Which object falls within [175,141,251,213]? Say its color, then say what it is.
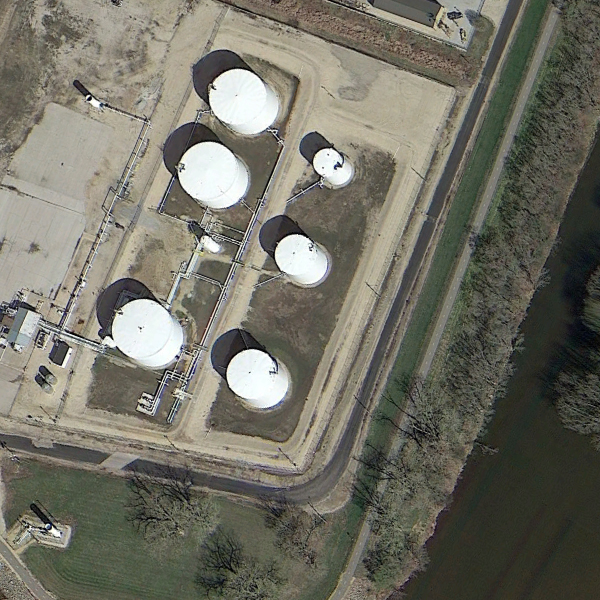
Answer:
white storage tank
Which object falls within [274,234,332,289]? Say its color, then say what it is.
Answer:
white storage tank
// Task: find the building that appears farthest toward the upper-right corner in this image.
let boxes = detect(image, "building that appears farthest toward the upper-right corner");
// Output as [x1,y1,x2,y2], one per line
[374,0,442,30]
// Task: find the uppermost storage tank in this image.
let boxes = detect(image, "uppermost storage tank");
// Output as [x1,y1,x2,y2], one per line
[207,67,281,138]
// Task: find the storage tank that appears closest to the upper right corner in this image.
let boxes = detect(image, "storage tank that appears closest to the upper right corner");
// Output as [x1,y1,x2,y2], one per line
[312,148,357,191]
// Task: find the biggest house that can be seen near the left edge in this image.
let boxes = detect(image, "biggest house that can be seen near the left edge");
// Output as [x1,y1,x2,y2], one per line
[6,308,43,348]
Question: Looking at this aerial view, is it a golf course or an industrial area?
industrial area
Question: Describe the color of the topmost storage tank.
white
